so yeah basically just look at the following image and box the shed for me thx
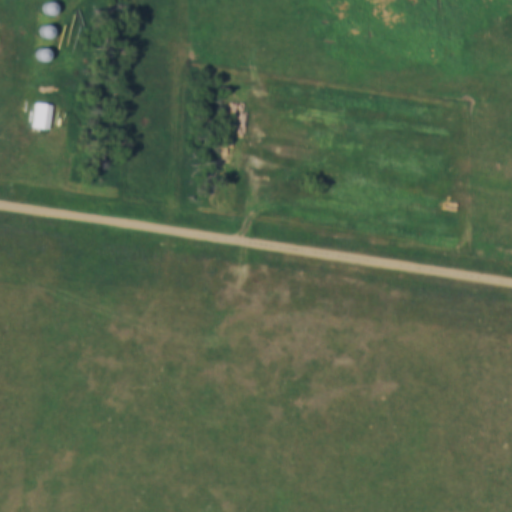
[32,102,53,130]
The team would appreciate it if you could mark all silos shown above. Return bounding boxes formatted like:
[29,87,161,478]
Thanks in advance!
[36,48,54,64]
[42,0,60,16]
[39,24,57,40]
